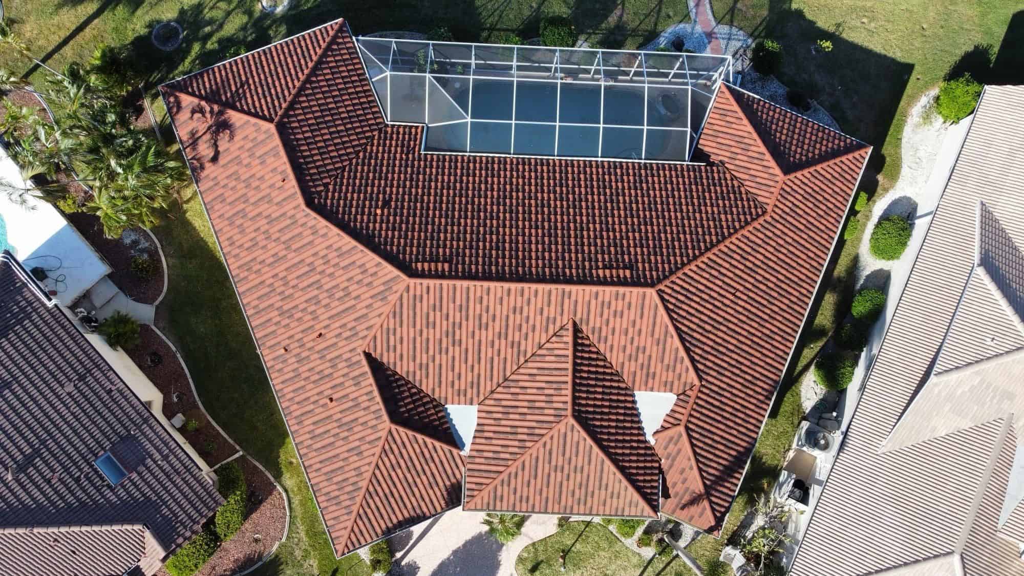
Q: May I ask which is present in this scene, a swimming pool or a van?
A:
swimming pool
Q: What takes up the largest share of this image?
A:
buildings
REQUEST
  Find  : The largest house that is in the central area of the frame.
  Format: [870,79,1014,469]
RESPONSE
[156,15,875,560]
